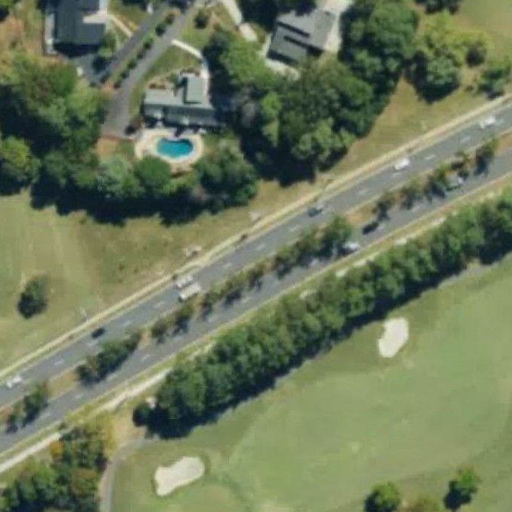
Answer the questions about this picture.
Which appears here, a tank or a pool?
pool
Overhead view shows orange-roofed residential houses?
No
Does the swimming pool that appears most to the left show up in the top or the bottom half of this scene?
top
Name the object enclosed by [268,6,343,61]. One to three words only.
house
